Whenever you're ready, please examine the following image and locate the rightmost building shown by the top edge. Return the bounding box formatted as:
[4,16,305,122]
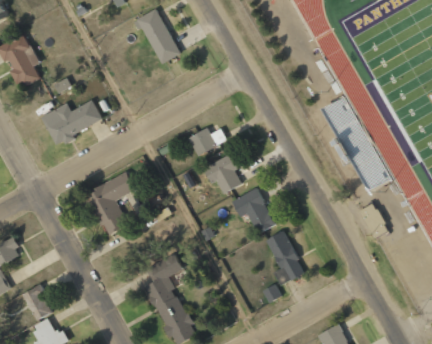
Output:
[137,10,180,62]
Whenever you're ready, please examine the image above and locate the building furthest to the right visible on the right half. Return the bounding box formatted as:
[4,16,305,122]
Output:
[359,204,390,242]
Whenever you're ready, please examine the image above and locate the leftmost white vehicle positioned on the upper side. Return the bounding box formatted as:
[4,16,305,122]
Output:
[36,102,54,114]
